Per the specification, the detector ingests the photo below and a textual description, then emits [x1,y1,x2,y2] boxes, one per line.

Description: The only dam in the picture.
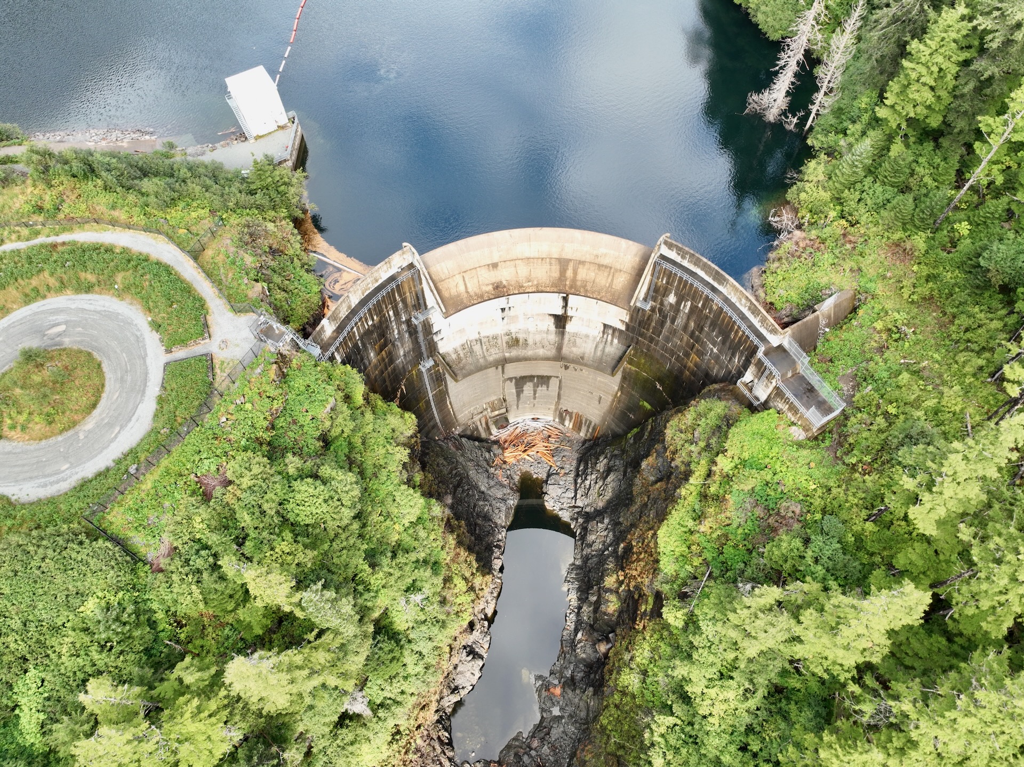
[303,230,786,448]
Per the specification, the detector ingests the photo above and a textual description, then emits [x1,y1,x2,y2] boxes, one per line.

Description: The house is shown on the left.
[225,68,291,141]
